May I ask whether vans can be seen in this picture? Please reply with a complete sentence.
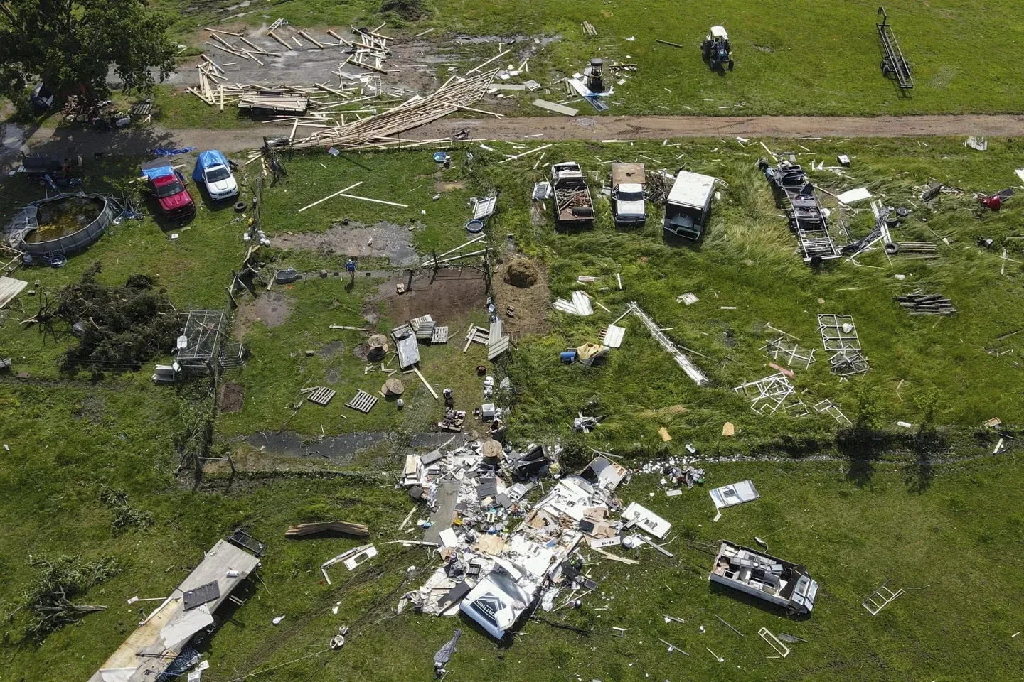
Yes, the image includes a van.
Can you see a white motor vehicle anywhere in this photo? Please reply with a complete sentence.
Yes, I can see a white motor vehicle in this picture.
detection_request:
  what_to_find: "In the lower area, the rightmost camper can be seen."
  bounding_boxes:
[706,541,818,614]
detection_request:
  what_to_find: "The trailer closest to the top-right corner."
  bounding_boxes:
[880,1,923,80]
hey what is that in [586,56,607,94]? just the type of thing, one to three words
work vehicle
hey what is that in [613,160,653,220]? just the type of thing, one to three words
truck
